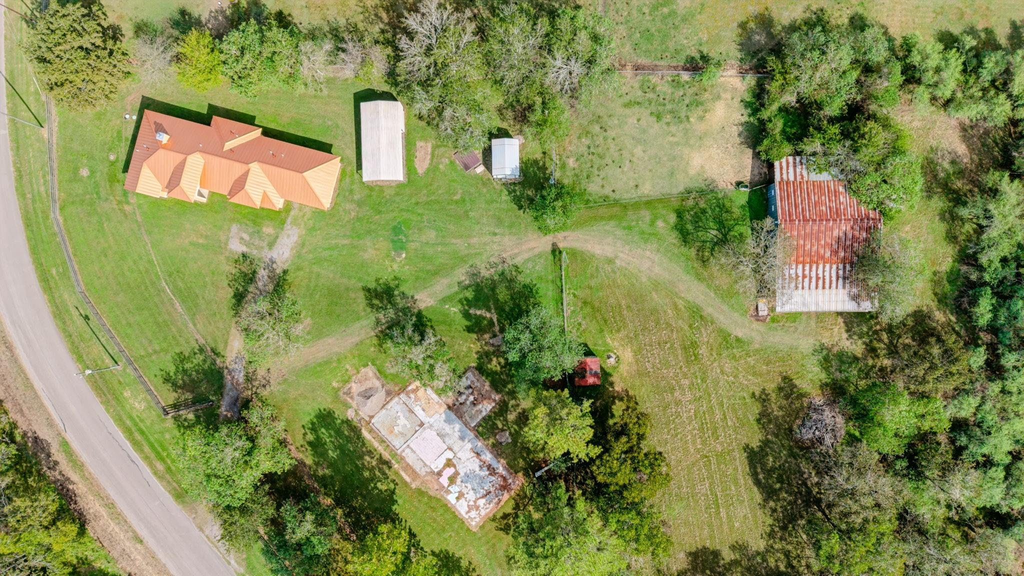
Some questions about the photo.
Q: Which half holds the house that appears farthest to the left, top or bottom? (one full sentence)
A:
The house that appears farthest to the left is in the top half of the image.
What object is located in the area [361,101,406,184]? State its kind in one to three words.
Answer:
shed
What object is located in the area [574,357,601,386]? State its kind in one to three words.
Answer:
shed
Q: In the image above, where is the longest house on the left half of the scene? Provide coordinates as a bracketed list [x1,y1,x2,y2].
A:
[125,109,342,214]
